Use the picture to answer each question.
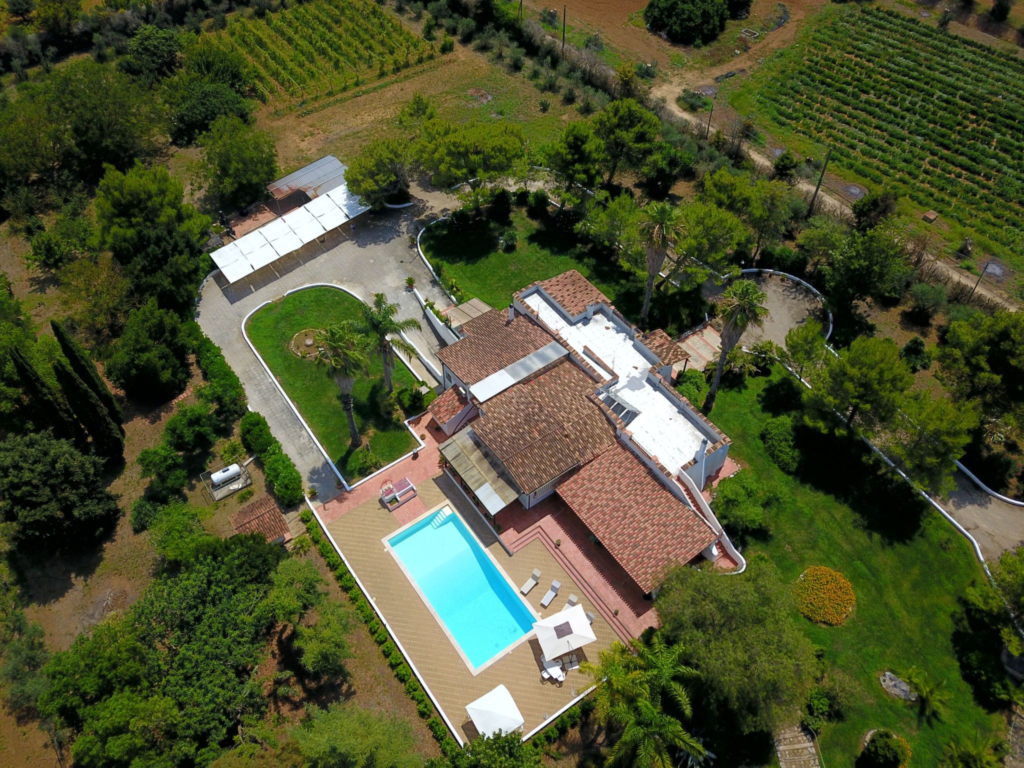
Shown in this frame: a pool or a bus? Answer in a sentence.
Looking from above, you can make out a pool.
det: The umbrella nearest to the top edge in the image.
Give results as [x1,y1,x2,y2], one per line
[533,604,597,673]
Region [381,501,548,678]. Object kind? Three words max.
swimming pool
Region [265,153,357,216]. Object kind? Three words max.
shed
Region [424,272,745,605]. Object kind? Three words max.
house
